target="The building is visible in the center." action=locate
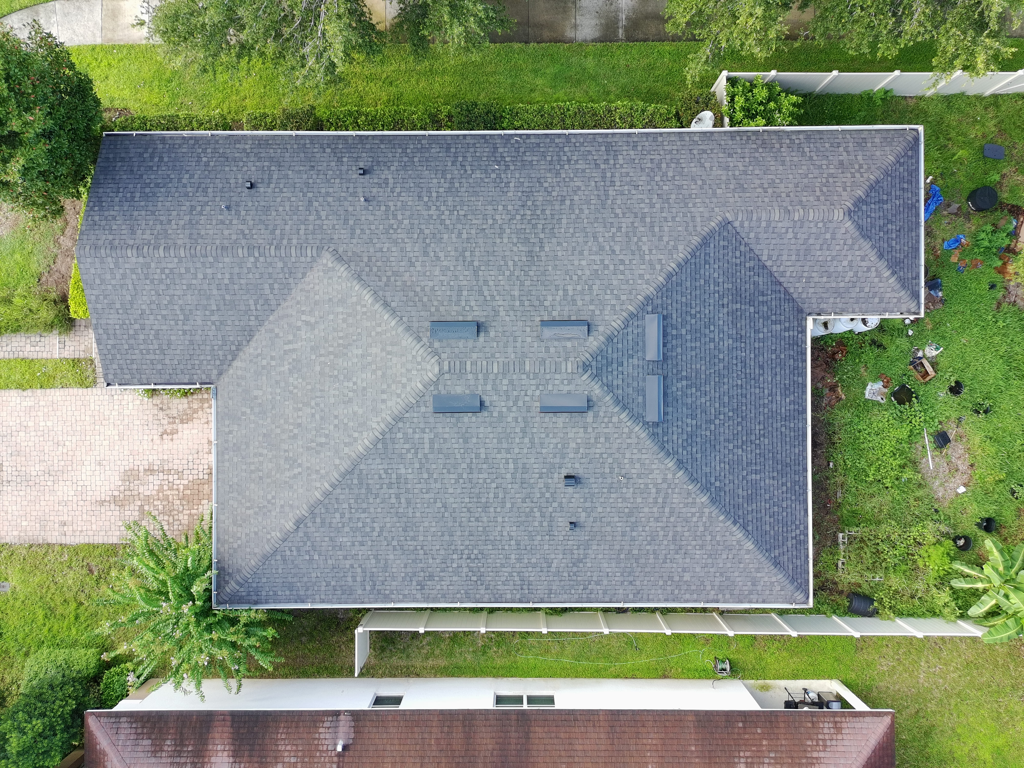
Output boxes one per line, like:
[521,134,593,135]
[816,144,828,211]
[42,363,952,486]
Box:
[71,128,924,607]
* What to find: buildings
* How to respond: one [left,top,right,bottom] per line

[55,676,898,768]
[71,128,924,607]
